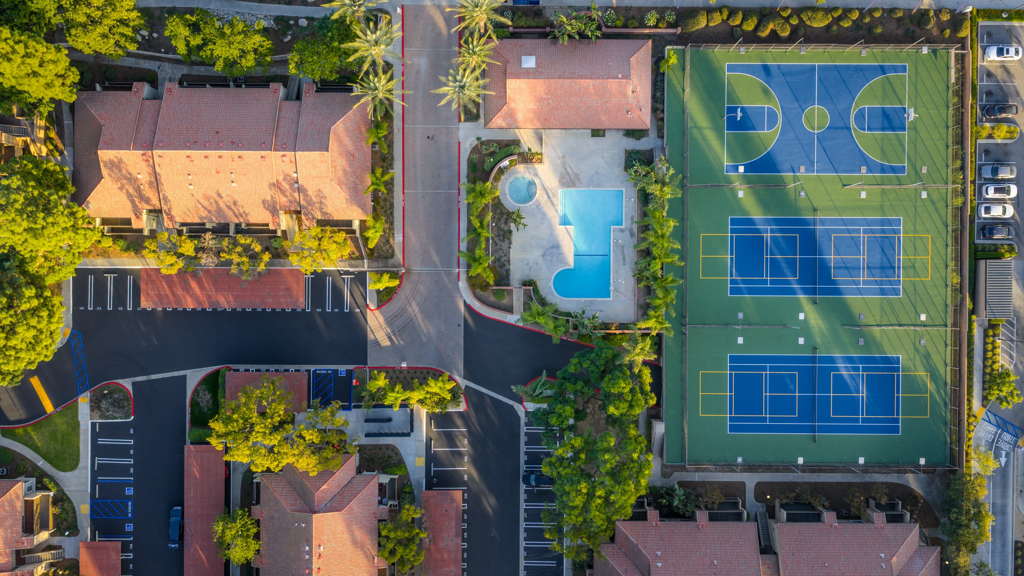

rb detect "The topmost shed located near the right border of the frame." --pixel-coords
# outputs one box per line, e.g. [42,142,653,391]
[968,260,1012,319]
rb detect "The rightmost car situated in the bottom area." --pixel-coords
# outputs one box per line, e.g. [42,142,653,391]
[523,472,558,493]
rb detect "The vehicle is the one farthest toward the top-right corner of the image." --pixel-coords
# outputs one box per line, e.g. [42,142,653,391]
[983,43,1021,61]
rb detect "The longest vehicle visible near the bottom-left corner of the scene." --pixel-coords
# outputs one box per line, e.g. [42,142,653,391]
[166,506,184,549]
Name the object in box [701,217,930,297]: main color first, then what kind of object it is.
blue tennis court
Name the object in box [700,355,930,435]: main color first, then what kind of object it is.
blue tennis court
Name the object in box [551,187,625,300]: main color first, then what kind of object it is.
blue swimming pool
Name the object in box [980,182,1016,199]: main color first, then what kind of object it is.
white car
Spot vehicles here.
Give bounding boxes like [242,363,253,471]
[981,102,1018,119]
[978,163,1016,180]
[166,506,184,549]
[983,43,1021,61]
[981,223,1015,240]
[523,472,558,493]
[976,202,1013,219]
[980,182,1016,199]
